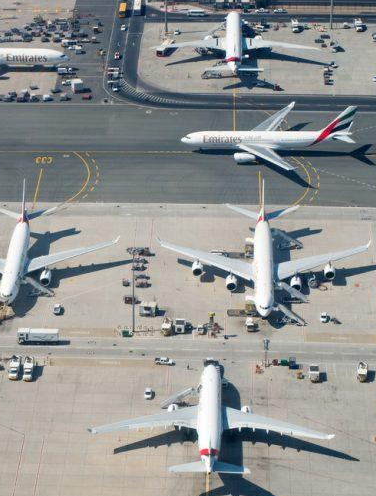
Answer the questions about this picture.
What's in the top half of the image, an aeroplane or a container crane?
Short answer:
aeroplane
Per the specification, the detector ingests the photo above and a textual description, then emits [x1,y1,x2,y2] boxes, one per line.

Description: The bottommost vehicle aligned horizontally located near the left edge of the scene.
[17,328,58,344]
